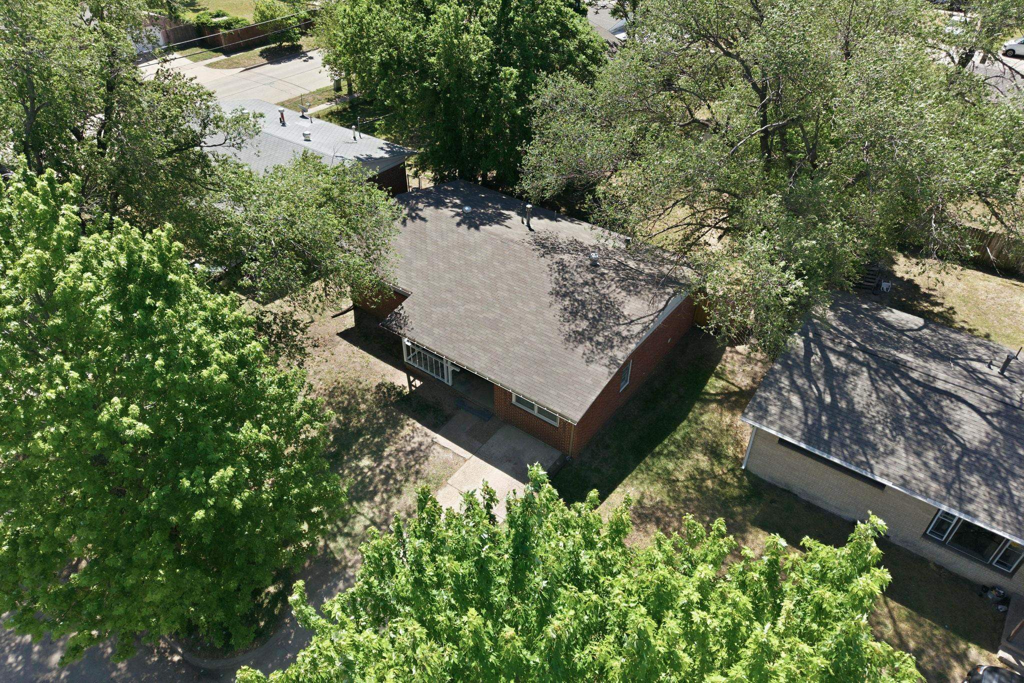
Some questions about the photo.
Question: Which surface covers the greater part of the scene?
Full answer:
What you mostly see from above here is trees.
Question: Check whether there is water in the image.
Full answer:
No, no water is visible.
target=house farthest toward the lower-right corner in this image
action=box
[737,286,1024,593]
